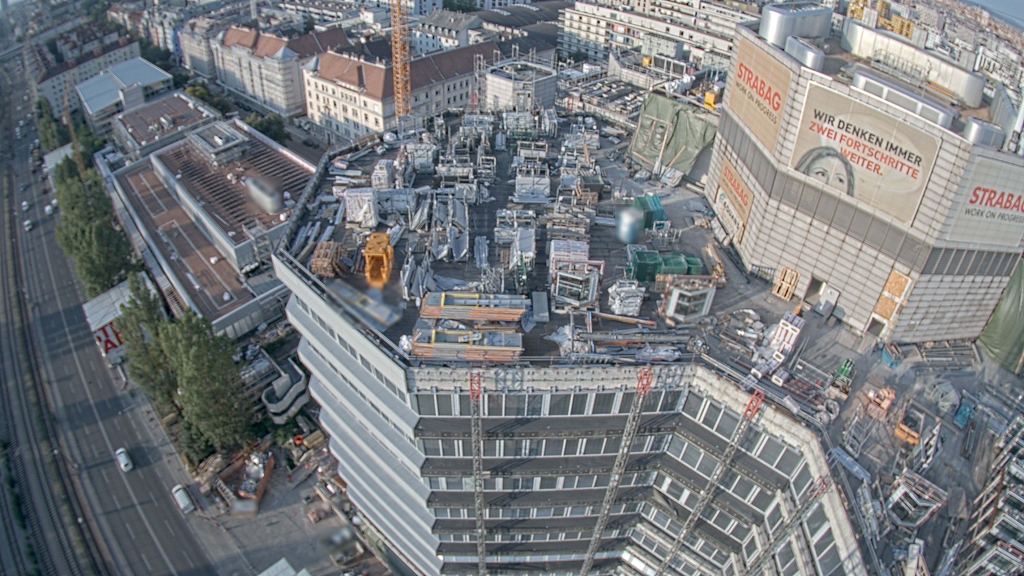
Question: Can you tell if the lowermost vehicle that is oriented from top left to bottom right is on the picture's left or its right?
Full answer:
It is on the left.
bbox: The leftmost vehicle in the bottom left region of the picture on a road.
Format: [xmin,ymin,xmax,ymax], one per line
[115,448,135,476]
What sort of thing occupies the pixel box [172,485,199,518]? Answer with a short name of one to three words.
vehicle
